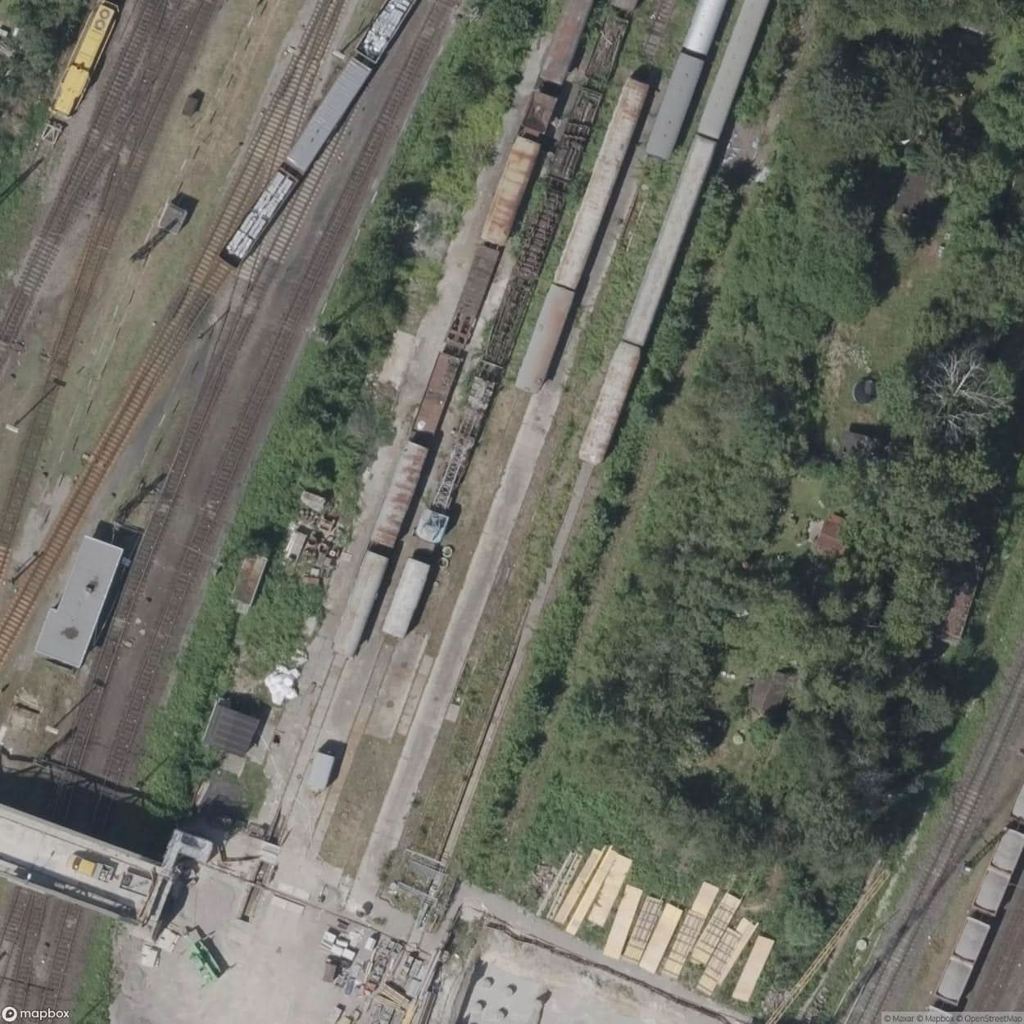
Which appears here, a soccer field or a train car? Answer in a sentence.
Visible in the photo is a train car.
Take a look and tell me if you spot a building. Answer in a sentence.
Yes, the picture does show a building.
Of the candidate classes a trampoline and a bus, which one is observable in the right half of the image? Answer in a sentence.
It is a bus that can be seen in the right half of the image.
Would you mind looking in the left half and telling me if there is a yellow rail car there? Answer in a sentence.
Yes, I can see a yellow rail car in the left half.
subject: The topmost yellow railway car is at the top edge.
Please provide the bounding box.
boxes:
[49,0,123,121]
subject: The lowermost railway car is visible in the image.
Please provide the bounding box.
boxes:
[924,1003,954,1024]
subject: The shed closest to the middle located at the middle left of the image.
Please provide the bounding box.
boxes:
[232,557,269,606]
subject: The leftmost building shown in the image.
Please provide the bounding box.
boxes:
[35,536,124,669]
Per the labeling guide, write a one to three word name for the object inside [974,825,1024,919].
rail car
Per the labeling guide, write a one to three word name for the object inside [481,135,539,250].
rail car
